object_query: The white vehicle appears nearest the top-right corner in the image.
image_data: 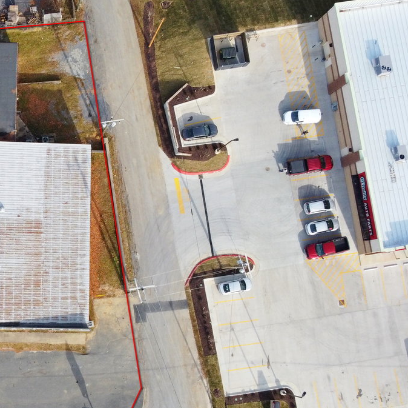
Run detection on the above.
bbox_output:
[281,108,323,127]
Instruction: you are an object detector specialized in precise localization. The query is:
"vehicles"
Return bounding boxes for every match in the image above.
[179,123,217,142]
[303,217,341,236]
[287,156,333,176]
[281,108,323,127]
[301,238,352,259]
[300,197,336,216]
[216,277,254,296]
